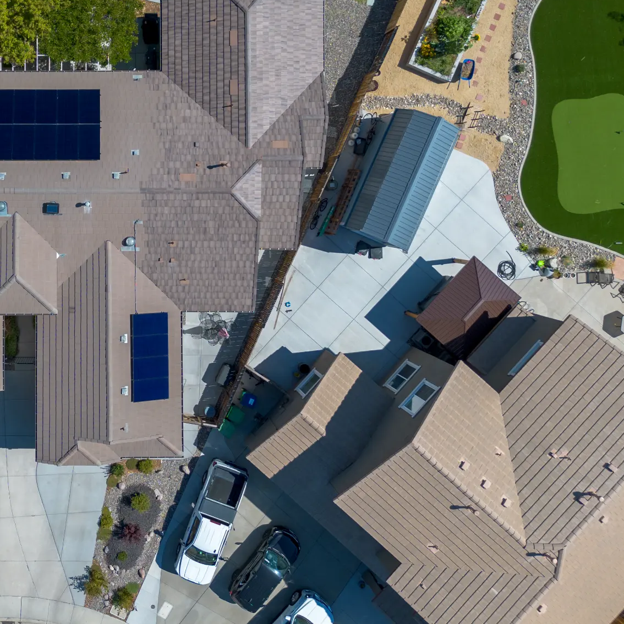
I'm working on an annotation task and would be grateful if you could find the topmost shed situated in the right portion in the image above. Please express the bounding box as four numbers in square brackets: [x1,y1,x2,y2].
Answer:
[336,105,462,253]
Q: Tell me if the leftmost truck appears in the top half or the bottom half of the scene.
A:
bottom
